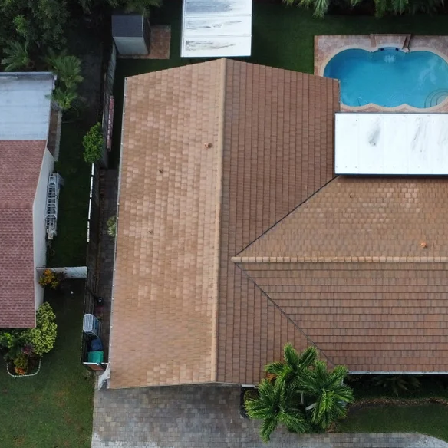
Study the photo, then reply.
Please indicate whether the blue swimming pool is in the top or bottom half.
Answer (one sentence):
The top half of the photo is where the blue swimming pool is.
